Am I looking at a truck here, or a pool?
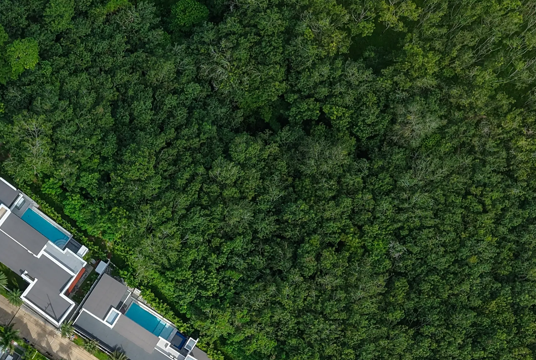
pool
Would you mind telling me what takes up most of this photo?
trees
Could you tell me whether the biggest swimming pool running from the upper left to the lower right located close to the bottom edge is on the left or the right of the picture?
left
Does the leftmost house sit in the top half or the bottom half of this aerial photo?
bottom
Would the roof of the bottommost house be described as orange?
No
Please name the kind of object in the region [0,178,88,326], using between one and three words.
house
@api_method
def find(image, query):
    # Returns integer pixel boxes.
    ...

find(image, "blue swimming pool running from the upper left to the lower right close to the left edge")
[19,205,74,251]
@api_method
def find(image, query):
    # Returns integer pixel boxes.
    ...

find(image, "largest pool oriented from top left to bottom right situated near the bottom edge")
[123,301,179,343]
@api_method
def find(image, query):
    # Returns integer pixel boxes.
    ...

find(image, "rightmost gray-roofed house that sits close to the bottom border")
[72,274,198,360]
